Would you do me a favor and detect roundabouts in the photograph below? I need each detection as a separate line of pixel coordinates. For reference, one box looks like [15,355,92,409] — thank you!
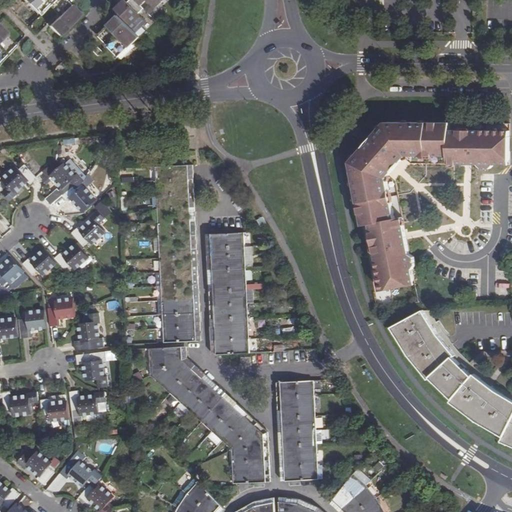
[222,0,349,124]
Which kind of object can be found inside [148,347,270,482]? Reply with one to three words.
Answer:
building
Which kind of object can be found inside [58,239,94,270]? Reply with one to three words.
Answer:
house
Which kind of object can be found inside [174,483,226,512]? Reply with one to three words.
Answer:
building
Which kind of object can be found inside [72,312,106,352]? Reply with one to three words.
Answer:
house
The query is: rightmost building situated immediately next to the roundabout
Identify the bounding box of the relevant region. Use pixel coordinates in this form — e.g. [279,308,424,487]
[346,122,510,300]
